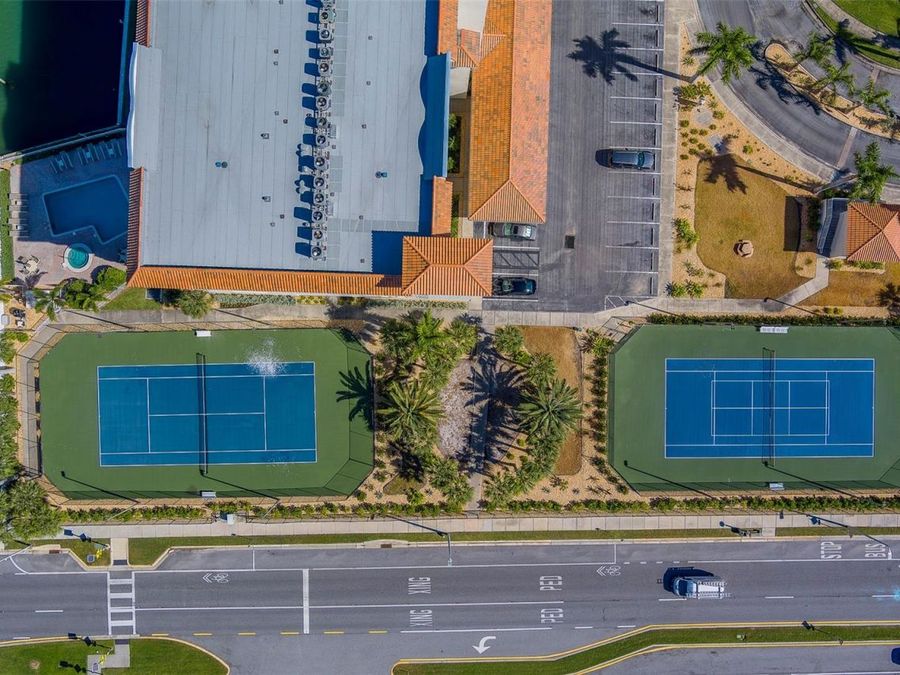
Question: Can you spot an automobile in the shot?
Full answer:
Yes, there's an automobile here.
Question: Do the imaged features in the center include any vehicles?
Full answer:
Yes, a vehicle is visible in the center.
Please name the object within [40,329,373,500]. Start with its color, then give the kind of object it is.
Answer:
green tennis court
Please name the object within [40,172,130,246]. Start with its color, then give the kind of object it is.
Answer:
blue swimming pool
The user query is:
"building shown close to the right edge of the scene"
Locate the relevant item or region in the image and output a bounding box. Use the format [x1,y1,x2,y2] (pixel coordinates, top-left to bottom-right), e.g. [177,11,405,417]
[830,201,900,264]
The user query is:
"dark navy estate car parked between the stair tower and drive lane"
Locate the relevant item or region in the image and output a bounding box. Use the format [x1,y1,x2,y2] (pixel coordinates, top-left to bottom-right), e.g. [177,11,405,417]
[492,275,536,295]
